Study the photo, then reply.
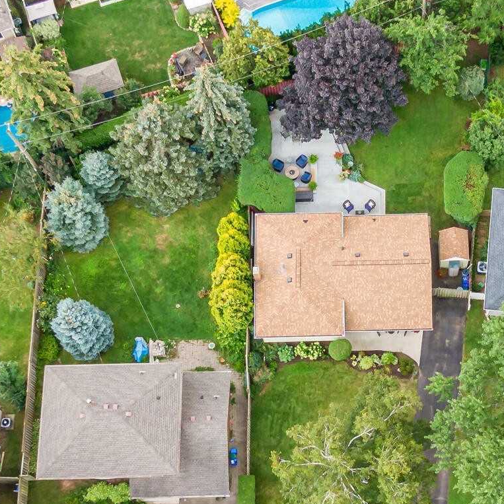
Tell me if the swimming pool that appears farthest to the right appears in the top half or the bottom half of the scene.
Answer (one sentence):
The swimming pool that appears farthest to the right is in the top half of the image.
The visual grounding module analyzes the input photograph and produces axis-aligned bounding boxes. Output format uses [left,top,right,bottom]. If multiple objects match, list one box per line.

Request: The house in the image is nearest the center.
[251,213,434,345]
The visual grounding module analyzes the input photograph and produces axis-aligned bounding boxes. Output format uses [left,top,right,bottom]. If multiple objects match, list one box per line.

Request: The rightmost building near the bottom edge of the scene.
[35,362,232,501]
